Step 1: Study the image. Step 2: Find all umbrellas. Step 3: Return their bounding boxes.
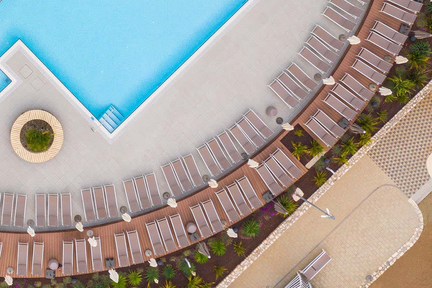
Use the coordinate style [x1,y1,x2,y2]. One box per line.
[400,24,432,35]
[104,257,120,281]
[262,191,287,211]
[337,33,362,43]
[143,248,158,267]
[338,117,369,132]
[201,173,218,188]
[162,190,177,206]
[275,116,295,129]
[221,218,237,235]
[313,73,335,84]
[74,213,85,230]
[383,53,410,64]
[368,83,394,94]
[241,151,259,165]
[86,229,98,246]
[5,266,15,285]
[25,219,35,236]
